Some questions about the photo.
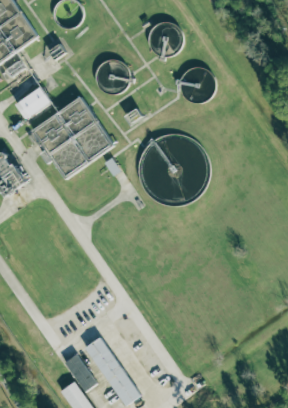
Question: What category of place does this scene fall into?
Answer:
industrial area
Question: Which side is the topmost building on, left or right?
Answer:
left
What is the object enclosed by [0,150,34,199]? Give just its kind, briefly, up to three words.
building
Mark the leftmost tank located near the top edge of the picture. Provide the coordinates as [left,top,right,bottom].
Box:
[54,0,88,31]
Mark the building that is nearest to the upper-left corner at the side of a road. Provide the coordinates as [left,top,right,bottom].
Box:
[16,86,54,122]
